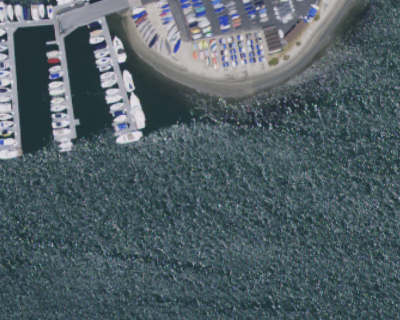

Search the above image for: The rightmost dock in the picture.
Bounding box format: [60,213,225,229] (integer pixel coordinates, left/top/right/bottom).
[94,16,136,136]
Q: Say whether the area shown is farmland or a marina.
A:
marina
